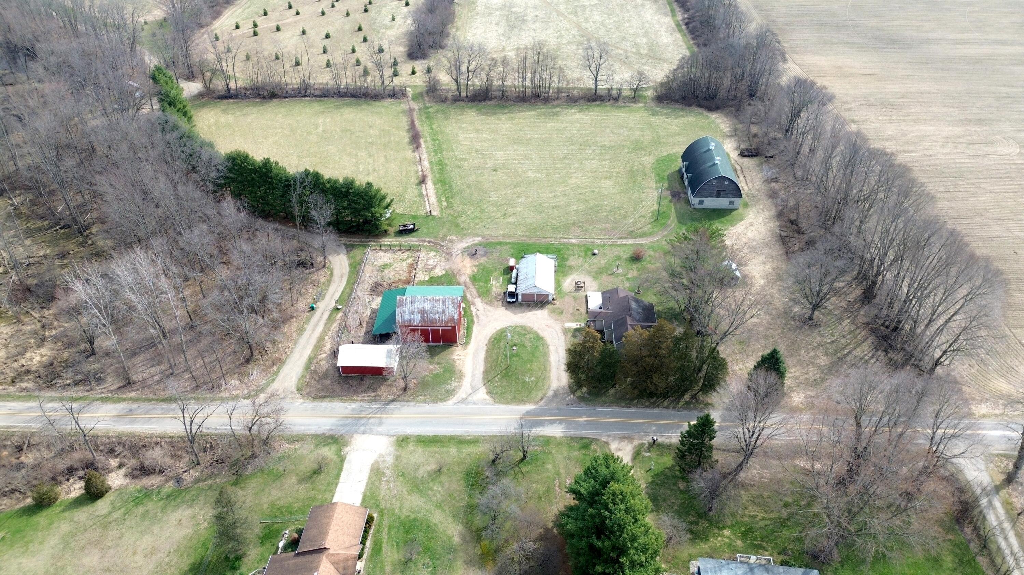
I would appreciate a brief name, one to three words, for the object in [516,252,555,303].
building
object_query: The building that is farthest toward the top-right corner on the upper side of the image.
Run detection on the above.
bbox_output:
[679,135,744,209]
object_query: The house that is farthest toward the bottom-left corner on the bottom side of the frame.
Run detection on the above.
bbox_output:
[254,500,369,575]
